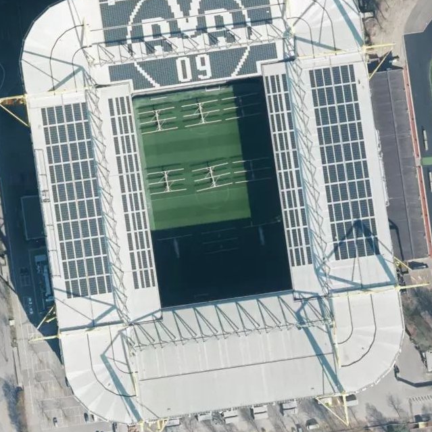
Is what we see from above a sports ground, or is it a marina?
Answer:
sports ground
